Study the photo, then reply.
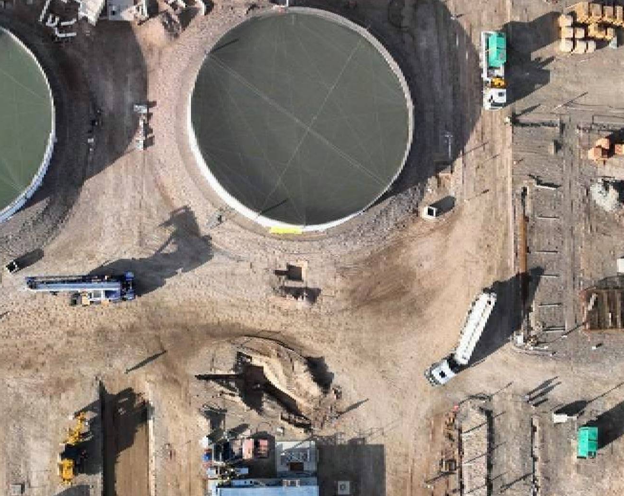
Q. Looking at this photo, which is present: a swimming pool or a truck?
truck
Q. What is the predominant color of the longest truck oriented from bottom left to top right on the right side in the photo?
white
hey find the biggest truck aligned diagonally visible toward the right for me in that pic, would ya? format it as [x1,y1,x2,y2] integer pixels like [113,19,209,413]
[420,281,502,390]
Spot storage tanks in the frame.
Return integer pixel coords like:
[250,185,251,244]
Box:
[0,27,58,231]
[181,0,415,243]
